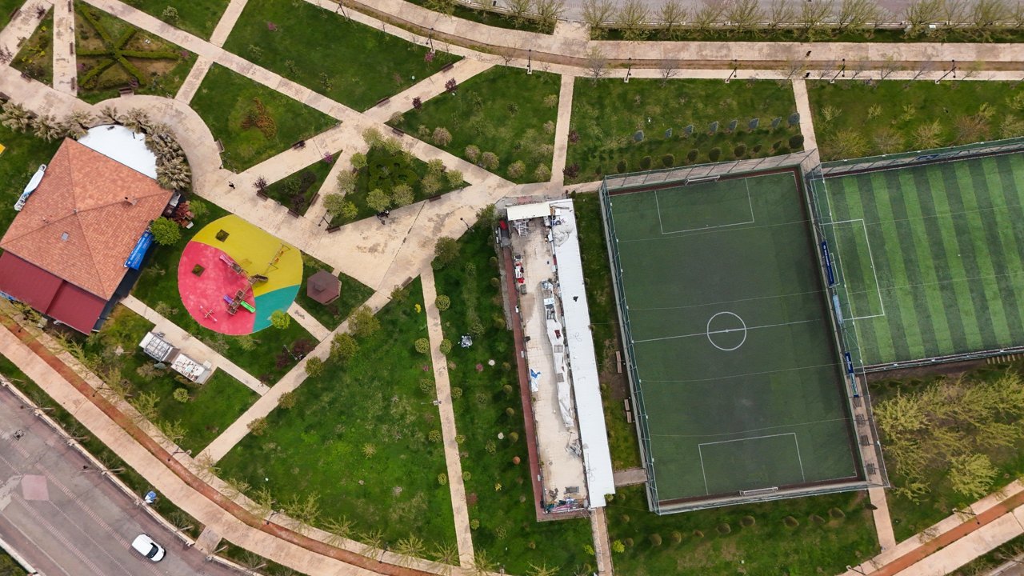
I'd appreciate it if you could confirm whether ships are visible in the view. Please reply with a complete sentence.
No, no ship can be seen from above.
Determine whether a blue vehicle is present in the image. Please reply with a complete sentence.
No, the photo shows no blue vehicle.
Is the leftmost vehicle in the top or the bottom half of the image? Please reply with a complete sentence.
The leftmost vehicle is in the bottom half of the image.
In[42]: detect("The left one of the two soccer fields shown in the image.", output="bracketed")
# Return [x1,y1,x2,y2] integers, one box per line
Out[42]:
[602,165,865,507]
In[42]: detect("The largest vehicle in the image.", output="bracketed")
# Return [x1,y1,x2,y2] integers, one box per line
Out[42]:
[127,533,167,560]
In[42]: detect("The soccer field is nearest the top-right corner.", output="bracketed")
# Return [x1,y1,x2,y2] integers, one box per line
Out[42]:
[806,141,1024,377]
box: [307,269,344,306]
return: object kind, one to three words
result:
building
